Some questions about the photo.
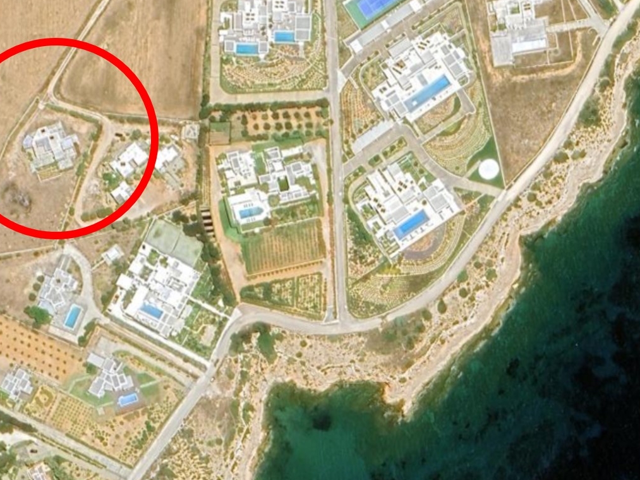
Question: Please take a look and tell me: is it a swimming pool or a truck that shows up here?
swimming pool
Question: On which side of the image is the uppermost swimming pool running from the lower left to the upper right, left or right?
right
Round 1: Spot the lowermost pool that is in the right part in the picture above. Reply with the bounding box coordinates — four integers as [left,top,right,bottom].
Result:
[392,209,430,240]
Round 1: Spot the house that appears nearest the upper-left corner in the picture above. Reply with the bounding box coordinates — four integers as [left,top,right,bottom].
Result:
[24,121,80,181]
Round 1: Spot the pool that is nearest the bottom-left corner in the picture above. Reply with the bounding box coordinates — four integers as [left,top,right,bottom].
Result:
[118,392,138,407]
